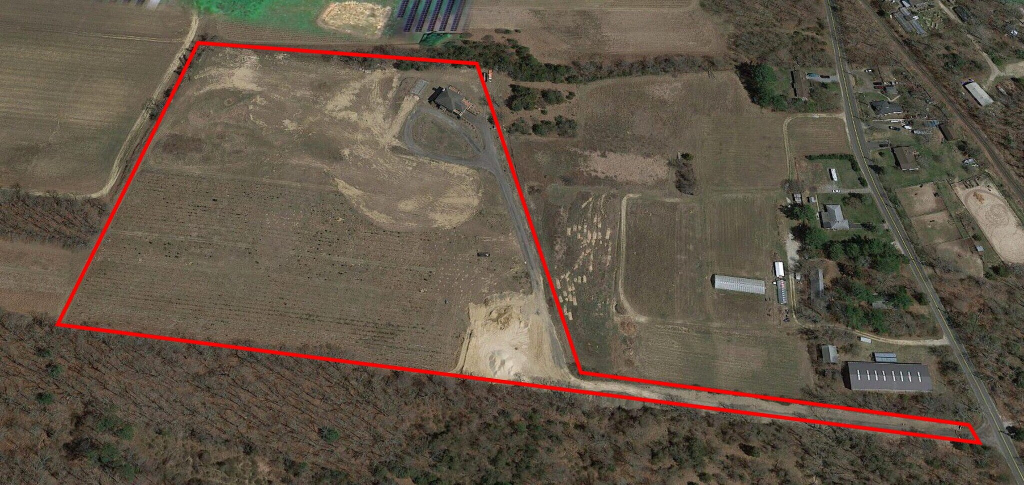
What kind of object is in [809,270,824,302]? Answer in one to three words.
house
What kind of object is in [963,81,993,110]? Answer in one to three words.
building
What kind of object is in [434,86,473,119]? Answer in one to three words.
house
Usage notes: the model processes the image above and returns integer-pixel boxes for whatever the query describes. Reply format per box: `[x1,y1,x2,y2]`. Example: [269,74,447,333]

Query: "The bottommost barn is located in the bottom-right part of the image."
[845,363,932,394]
